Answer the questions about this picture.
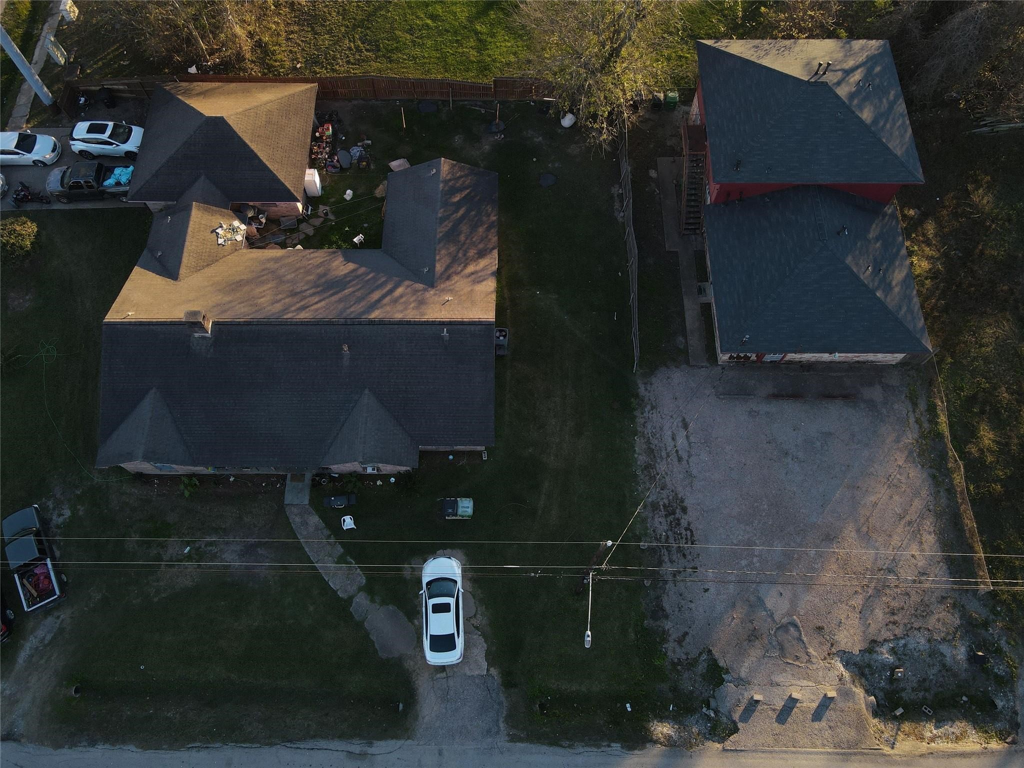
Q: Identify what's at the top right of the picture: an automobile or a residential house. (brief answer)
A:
residential house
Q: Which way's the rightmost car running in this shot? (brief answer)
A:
vertically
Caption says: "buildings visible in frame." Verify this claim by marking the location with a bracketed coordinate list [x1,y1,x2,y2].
[95,158,498,479]
[687,39,935,379]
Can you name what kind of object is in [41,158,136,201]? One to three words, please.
truck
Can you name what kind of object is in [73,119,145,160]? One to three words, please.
car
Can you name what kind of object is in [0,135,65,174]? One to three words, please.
car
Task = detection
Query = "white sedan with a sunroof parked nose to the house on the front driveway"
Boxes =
[418,554,465,669]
